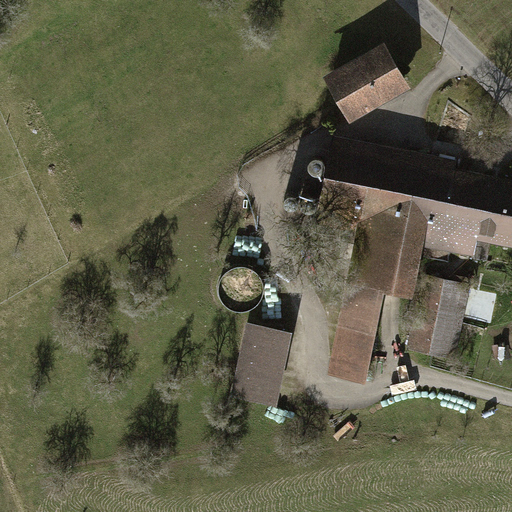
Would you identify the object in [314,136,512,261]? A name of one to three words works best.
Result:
barn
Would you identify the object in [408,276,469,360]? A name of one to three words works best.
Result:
barn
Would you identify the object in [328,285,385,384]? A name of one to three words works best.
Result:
shed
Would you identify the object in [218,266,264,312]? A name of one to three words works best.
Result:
storage tank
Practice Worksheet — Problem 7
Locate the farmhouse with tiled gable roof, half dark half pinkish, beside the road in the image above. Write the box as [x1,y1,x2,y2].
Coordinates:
[324,44,410,123]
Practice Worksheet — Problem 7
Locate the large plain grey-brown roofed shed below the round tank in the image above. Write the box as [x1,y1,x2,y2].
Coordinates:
[235,322,292,406]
